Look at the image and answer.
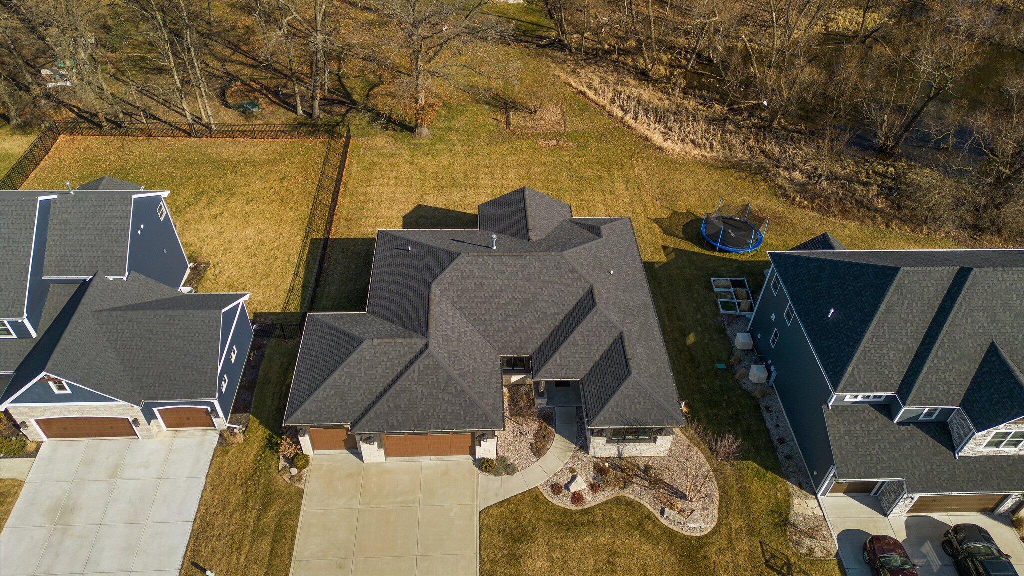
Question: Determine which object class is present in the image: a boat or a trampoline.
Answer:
trampoline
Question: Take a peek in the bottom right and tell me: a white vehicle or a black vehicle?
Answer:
black vehicle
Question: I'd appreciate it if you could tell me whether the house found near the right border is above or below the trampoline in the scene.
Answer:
below it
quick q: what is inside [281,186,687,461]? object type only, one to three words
house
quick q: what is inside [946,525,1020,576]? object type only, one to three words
car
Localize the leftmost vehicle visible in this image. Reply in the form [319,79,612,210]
[864,534,924,576]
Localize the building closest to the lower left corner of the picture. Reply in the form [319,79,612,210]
[0,174,254,441]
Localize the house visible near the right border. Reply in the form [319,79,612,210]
[749,233,1024,515]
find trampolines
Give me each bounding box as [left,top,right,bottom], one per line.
[697,196,774,260]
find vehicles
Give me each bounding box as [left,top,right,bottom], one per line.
[864,534,924,576]
[946,525,1020,576]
